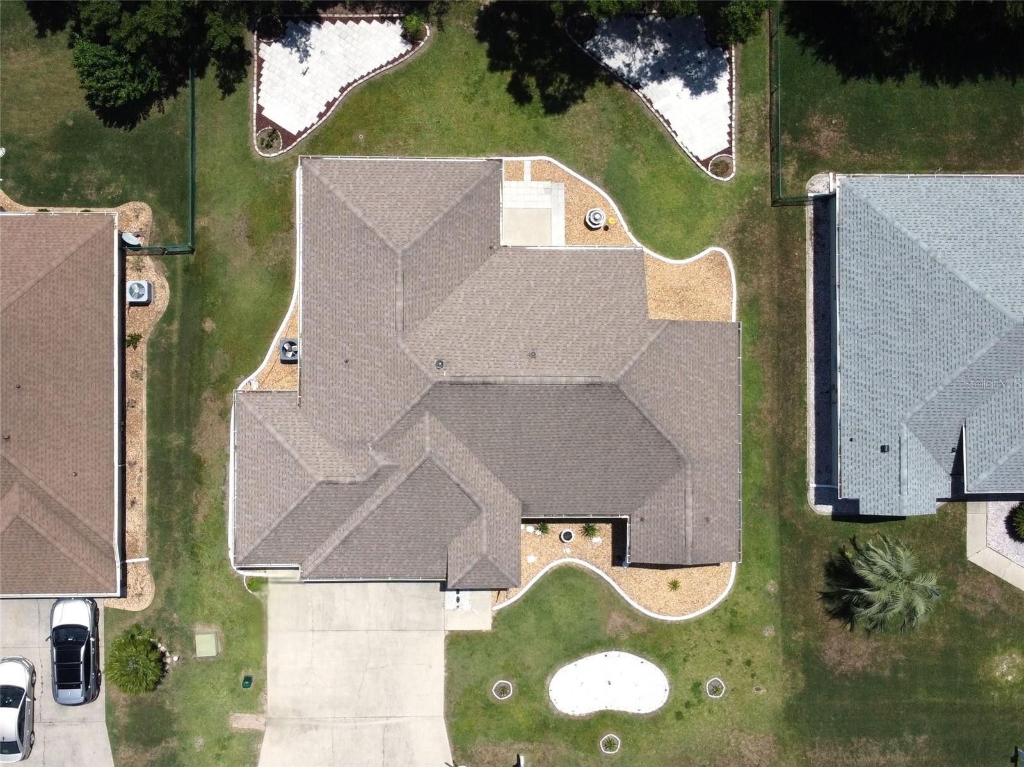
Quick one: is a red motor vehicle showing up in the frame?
No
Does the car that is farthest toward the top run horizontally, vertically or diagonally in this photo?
vertically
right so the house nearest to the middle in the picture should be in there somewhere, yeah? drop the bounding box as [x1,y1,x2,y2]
[232,156,744,591]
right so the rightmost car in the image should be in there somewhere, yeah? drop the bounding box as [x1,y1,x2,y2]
[45,598,101,706]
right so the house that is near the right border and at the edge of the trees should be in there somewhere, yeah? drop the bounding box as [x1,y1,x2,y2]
[811,173,1024,515]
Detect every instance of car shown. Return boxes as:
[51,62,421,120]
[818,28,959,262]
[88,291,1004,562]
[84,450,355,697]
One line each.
[45,598,101,706]
[0,656,37,762]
